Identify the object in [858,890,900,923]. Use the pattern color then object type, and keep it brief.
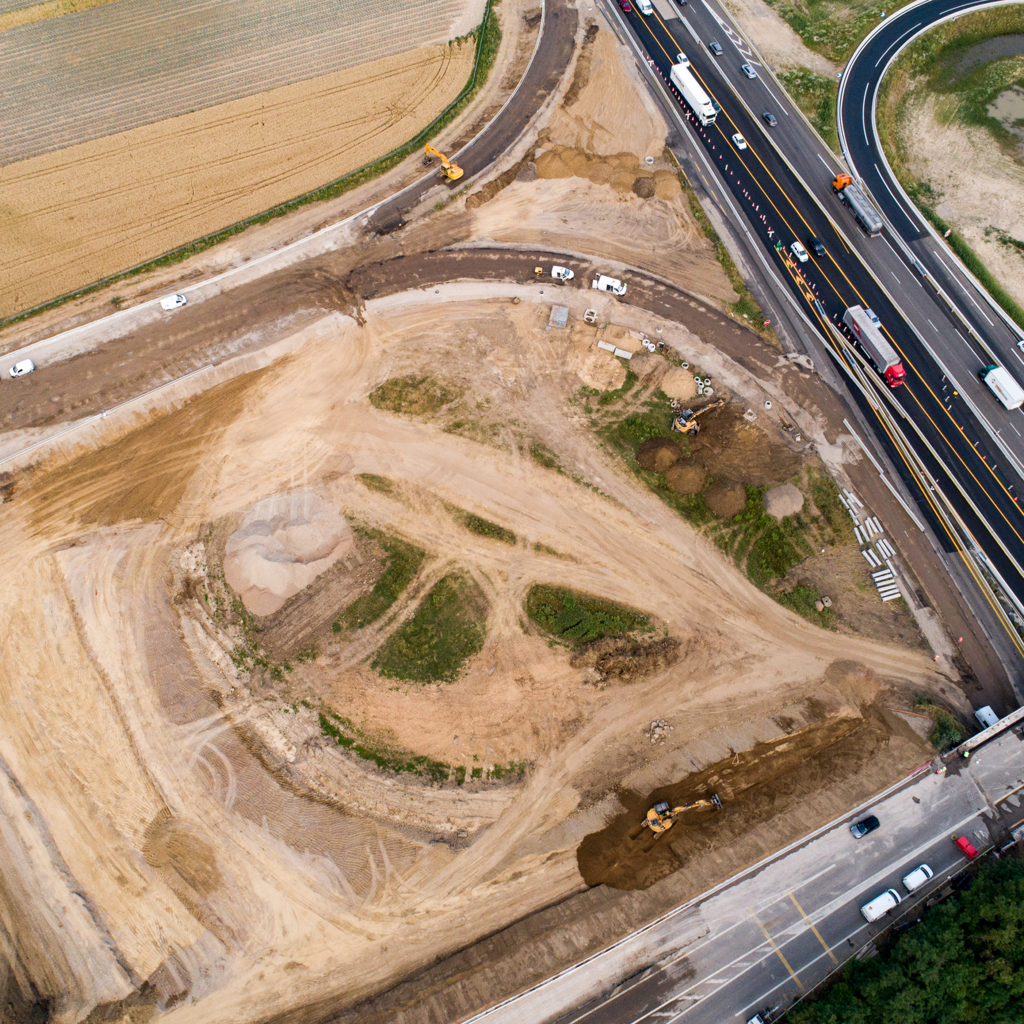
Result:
white van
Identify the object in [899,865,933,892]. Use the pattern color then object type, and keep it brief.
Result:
white vehicle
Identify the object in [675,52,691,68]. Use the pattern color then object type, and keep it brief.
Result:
white car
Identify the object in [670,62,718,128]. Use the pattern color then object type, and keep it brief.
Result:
white truck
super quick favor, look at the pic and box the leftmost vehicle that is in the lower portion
[641,796,722,842]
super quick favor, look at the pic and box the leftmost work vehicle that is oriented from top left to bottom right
[423,138,470,189]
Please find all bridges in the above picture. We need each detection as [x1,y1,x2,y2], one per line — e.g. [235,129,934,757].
[942,706,1024,764]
